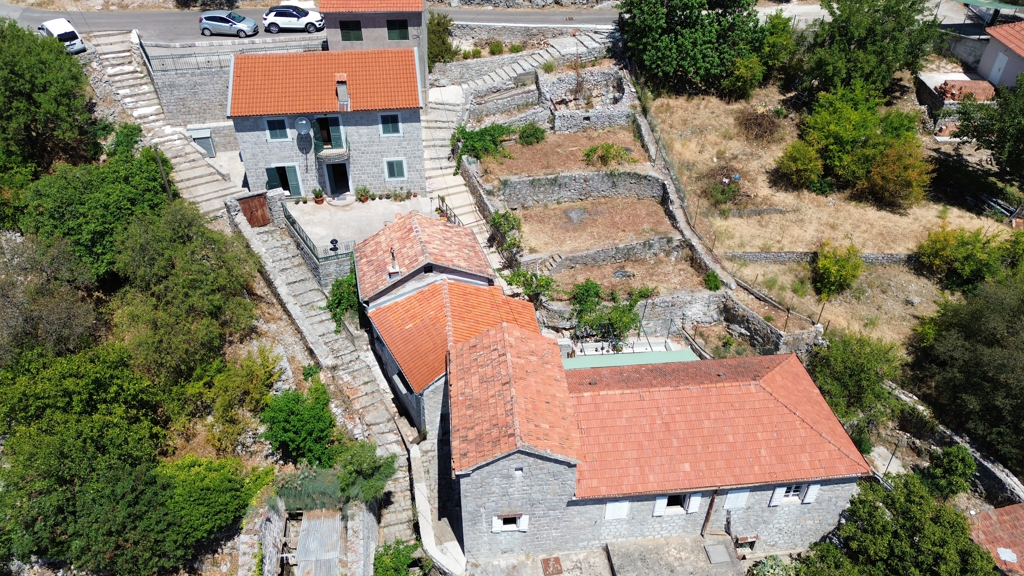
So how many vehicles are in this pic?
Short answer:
3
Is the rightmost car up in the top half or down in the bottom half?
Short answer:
top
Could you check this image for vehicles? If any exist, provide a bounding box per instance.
[258,3,326,33]
[193,8,260,38]
[32,20,90,59]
